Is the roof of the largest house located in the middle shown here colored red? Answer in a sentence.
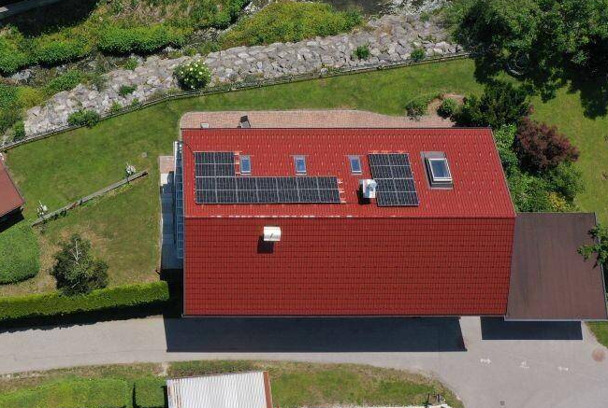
Yes, the roof of the largest house located in the middle is red.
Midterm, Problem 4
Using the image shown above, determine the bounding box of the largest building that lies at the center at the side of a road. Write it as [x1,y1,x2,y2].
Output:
[182,127,516,317]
